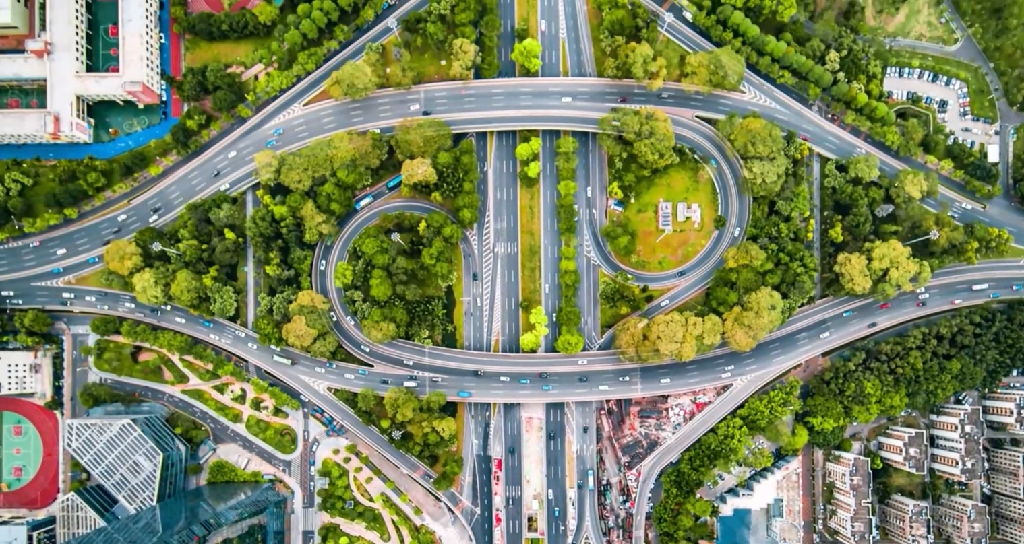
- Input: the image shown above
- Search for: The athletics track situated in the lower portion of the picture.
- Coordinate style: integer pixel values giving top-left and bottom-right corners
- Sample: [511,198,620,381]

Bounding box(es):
[0,397,59,509]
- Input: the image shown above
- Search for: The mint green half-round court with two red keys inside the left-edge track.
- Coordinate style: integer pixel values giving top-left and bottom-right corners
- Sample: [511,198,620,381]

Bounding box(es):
[0,410,43,492]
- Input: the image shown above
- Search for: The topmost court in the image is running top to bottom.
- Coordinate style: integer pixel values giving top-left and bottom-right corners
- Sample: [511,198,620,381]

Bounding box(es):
[94,0,120,73]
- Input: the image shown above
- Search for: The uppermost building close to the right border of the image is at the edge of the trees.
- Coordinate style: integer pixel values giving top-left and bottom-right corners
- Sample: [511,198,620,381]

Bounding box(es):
[977,388,1024,434]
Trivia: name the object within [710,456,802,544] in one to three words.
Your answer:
building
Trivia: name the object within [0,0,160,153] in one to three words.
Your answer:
building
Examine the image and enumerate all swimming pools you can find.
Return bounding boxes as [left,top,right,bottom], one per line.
[716,510,770,544]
